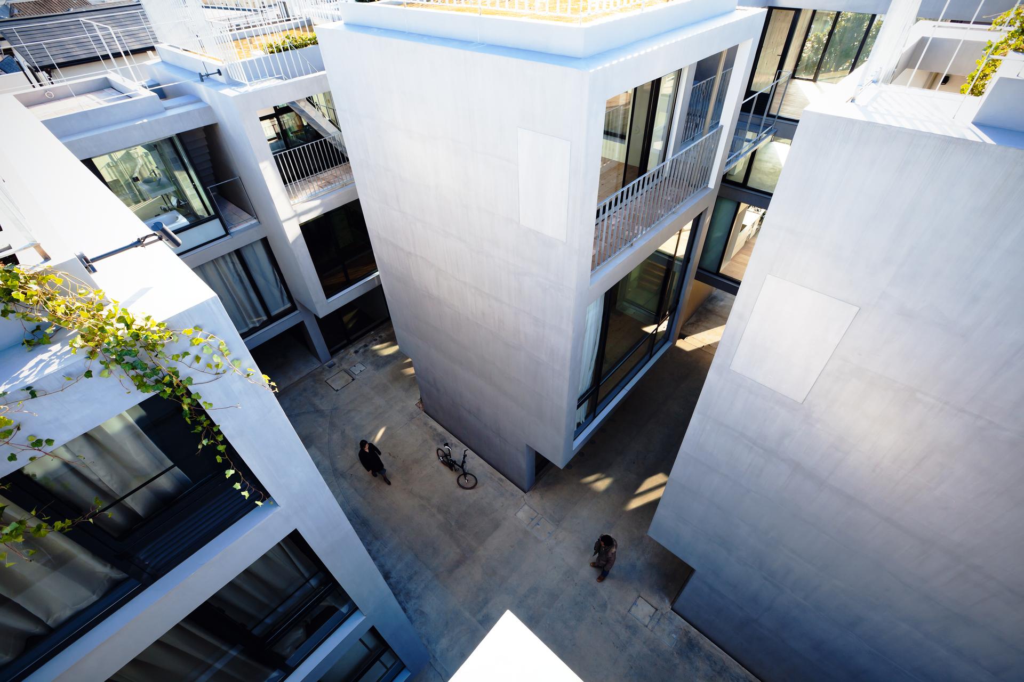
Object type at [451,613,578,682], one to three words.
house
